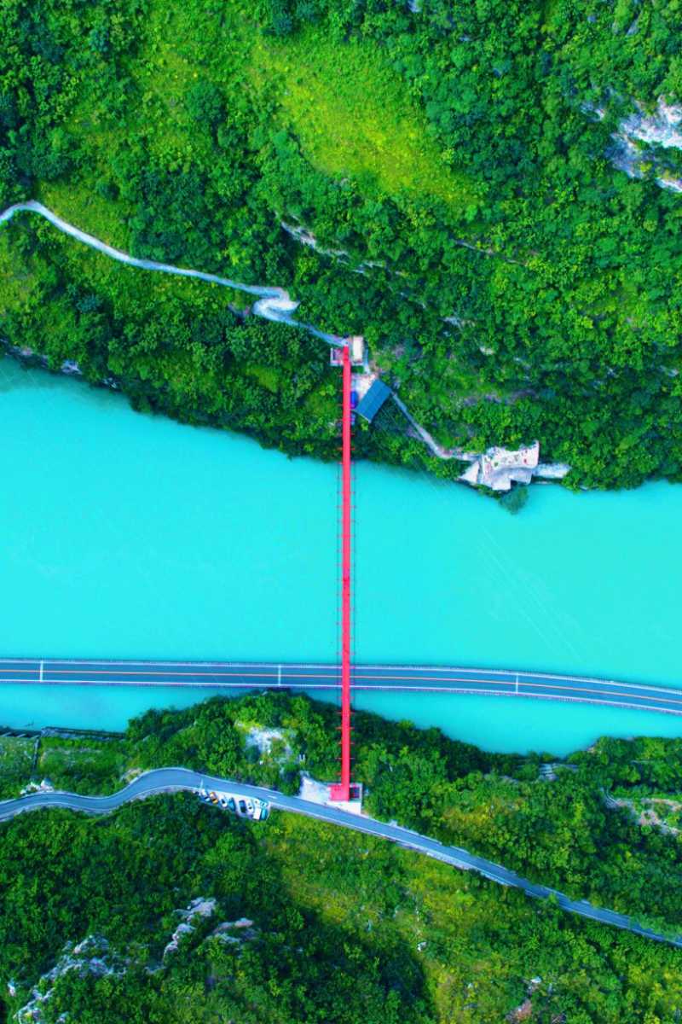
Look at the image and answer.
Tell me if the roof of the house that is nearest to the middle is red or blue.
blue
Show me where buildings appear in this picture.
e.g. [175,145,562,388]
[353,337,363,362]
[354,380,392,422]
